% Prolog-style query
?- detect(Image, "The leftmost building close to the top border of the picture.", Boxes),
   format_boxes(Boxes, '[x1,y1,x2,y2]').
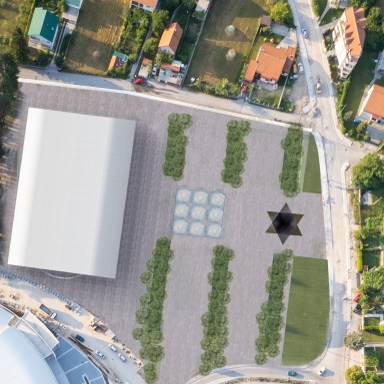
[29,7,59,48]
